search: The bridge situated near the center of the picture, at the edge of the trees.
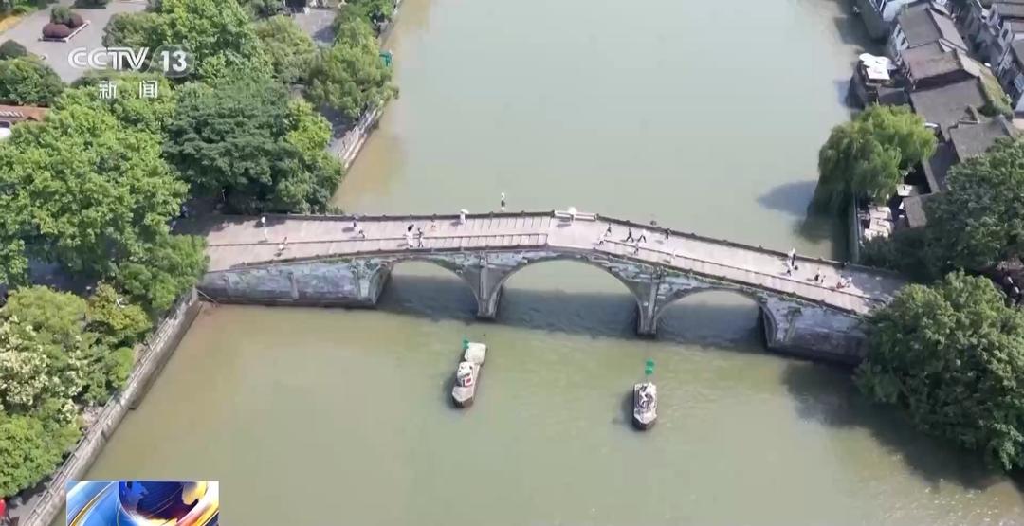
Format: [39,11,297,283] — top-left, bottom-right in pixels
[195,208,974,372]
